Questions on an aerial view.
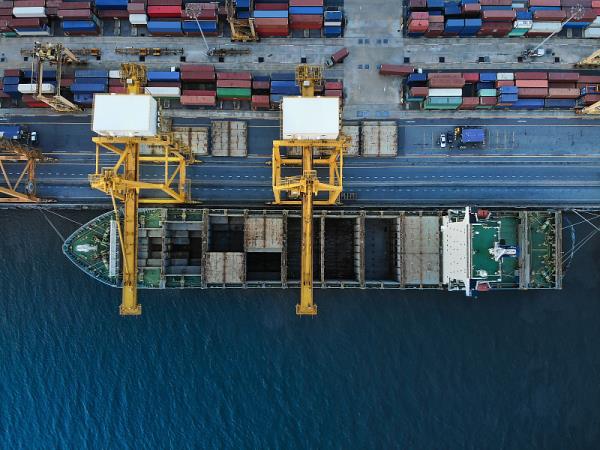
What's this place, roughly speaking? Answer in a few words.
port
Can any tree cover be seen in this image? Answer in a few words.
No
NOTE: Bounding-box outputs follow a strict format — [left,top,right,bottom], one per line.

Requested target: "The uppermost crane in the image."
[223,0,257,41]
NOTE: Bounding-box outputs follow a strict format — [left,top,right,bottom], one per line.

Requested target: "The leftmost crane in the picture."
[0,144,49,202]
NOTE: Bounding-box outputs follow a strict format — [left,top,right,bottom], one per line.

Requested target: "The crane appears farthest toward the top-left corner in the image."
[32,40,83,112]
